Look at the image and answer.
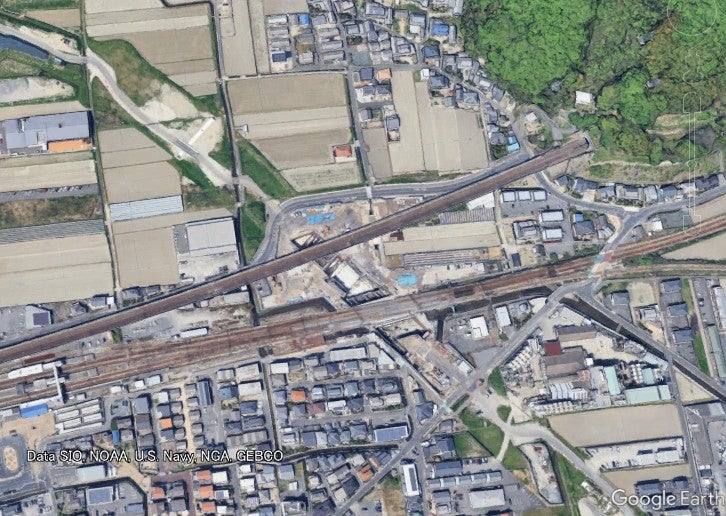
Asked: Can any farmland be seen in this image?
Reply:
Yes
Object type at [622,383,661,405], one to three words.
building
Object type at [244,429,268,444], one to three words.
house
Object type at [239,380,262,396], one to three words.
house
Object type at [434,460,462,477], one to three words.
building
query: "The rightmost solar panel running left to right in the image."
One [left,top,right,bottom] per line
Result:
[376,427,405,440]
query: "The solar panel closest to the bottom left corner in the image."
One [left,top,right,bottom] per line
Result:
[89,488,112,503]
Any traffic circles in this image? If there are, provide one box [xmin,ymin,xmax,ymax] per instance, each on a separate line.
[0,427,30,485]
